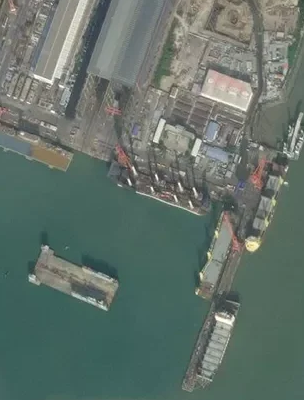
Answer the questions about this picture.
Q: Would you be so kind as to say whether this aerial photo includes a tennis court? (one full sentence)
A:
No, no tennis court can be seen from above.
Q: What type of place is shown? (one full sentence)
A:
The picture captures a port.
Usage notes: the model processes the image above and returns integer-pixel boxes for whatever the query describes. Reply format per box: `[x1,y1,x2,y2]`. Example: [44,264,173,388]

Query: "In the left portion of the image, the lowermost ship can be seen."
[29,245,119,310]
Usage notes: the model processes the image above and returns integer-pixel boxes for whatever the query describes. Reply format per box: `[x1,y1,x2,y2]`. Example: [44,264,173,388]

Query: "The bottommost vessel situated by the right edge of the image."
[250,157,293,250]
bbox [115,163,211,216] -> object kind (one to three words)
ship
